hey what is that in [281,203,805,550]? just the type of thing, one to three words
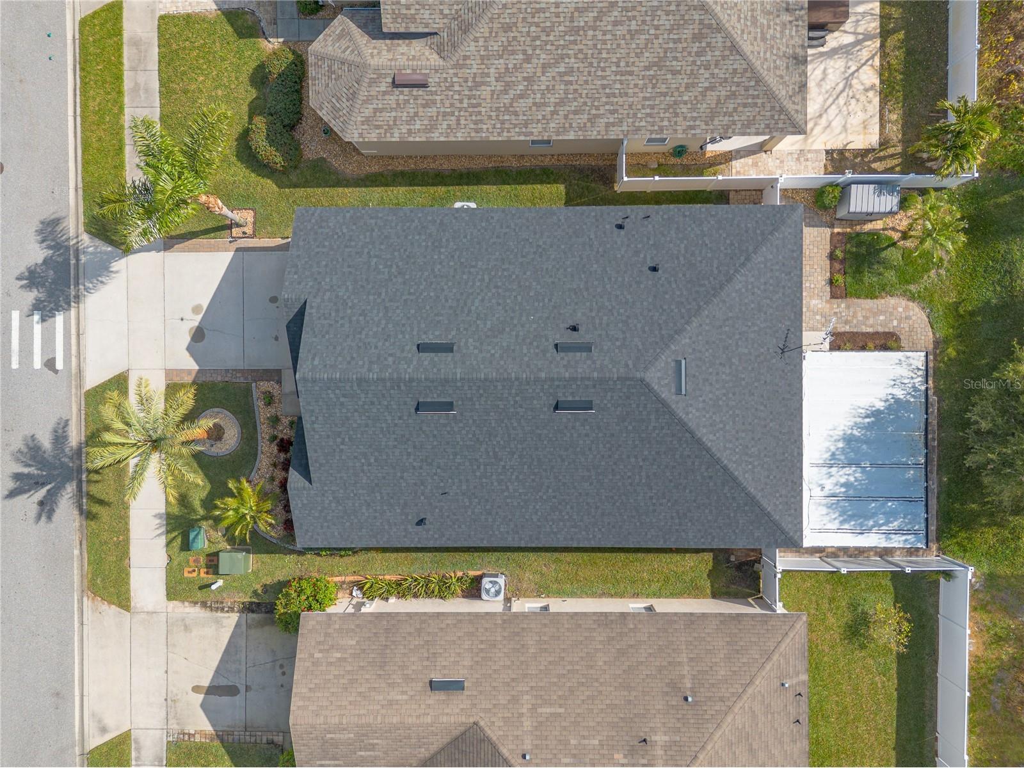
house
